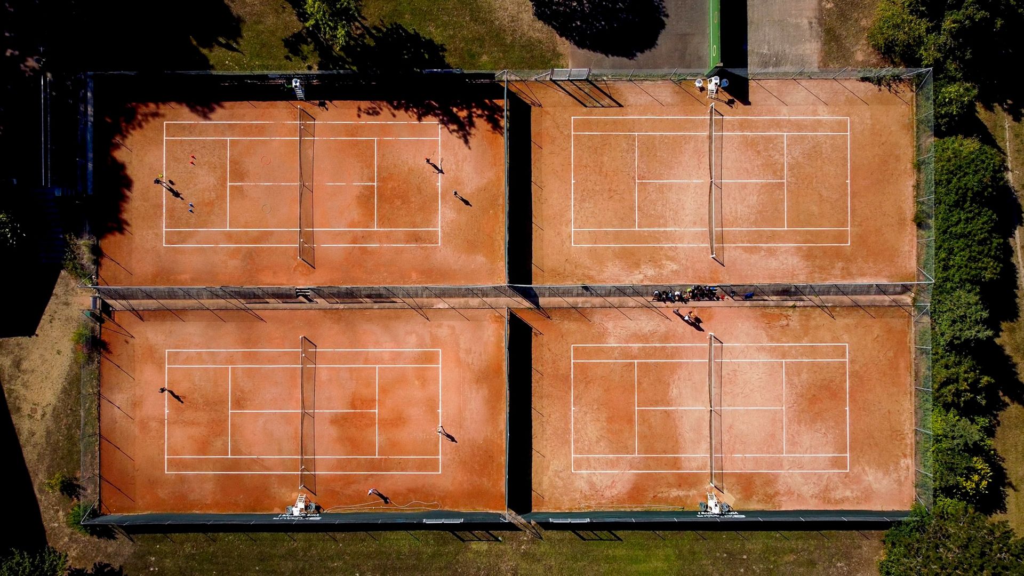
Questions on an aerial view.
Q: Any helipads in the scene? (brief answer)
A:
No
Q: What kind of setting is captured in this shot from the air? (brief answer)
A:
sports ground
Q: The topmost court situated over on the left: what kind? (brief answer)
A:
tennis court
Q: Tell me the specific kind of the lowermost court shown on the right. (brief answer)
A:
tennis court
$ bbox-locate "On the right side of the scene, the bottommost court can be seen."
[508,306,912,512]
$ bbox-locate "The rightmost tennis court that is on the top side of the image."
[509,79,915,286]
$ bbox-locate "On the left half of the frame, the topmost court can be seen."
[96,80,508,289]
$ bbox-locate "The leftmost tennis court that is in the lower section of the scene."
[97,308,508,514]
